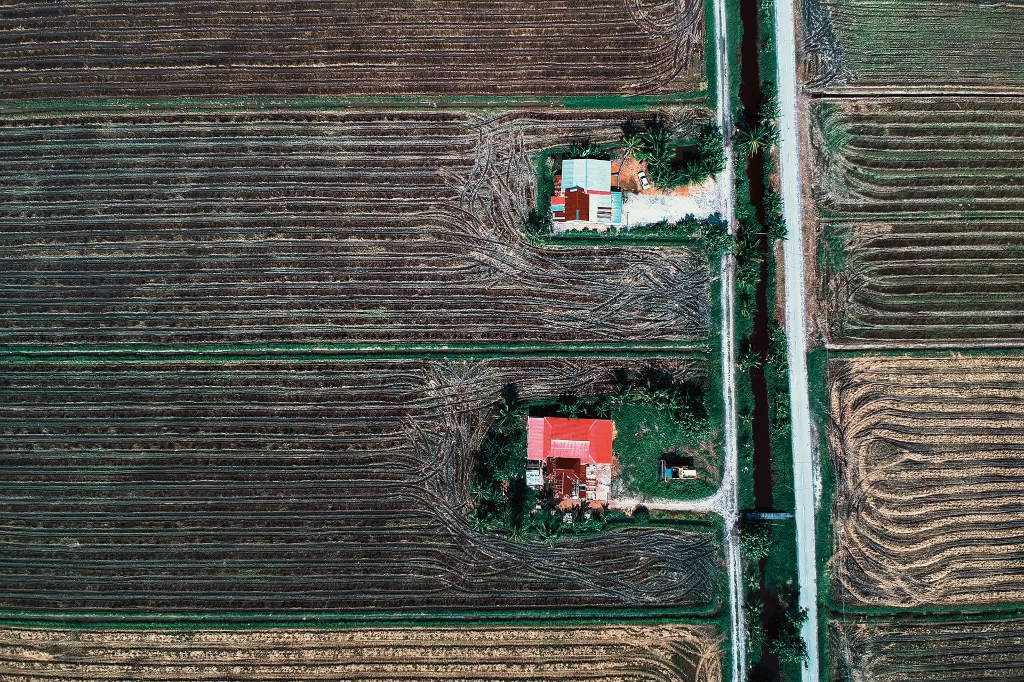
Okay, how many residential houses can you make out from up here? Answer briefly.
2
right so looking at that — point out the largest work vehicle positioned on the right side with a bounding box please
[657,459,696,482]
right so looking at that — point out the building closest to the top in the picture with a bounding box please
[549,159,622,228]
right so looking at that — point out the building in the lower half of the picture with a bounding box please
[526,417,612,500]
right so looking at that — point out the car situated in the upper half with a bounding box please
[638,171,650,190]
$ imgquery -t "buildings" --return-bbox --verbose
[526,417,612,500]
[549,159,622,228]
